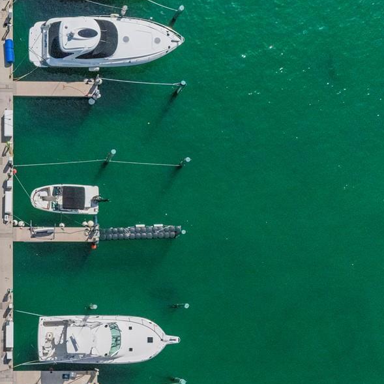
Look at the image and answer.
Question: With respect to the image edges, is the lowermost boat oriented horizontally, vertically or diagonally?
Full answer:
I'd say the lowermost boat is aligned horizontally in the picture.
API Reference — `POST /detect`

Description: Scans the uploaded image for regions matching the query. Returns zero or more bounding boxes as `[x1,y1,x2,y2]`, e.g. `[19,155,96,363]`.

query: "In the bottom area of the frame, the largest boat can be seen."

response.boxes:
[14,311,180,368]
